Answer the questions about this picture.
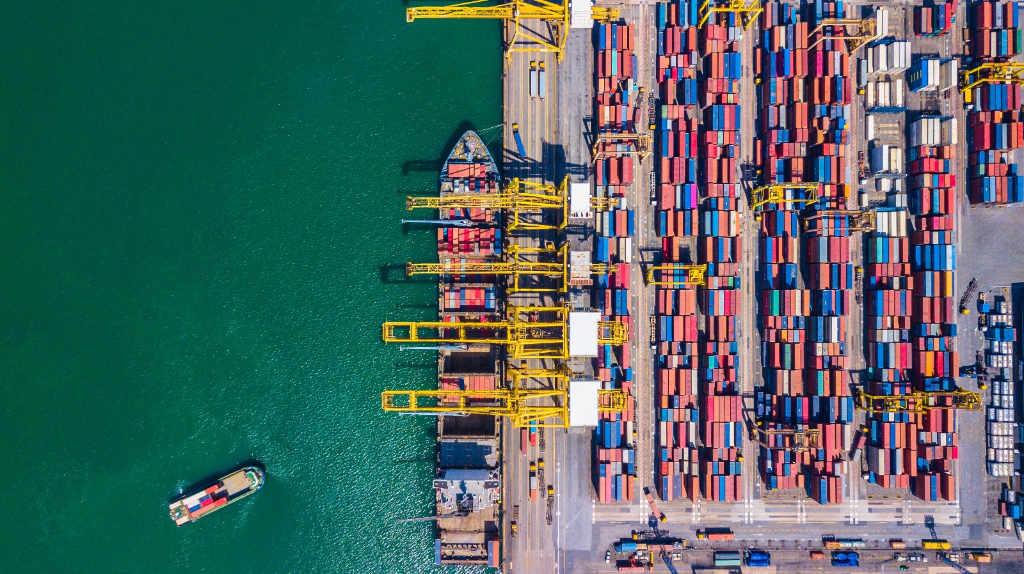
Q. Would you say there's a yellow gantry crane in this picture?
Yes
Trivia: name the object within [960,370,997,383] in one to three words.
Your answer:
vehicle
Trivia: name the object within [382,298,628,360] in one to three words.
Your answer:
container crane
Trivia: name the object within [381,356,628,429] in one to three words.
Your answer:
container crane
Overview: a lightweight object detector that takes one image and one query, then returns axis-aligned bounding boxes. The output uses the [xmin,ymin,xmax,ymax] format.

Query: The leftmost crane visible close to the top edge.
[404,0,619,71]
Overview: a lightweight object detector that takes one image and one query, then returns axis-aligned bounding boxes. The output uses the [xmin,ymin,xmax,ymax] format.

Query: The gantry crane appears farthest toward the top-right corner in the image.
[964,53,1024,90]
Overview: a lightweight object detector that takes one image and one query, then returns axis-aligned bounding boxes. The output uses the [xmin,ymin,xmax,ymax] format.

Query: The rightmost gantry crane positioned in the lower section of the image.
[911,386,983,415]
